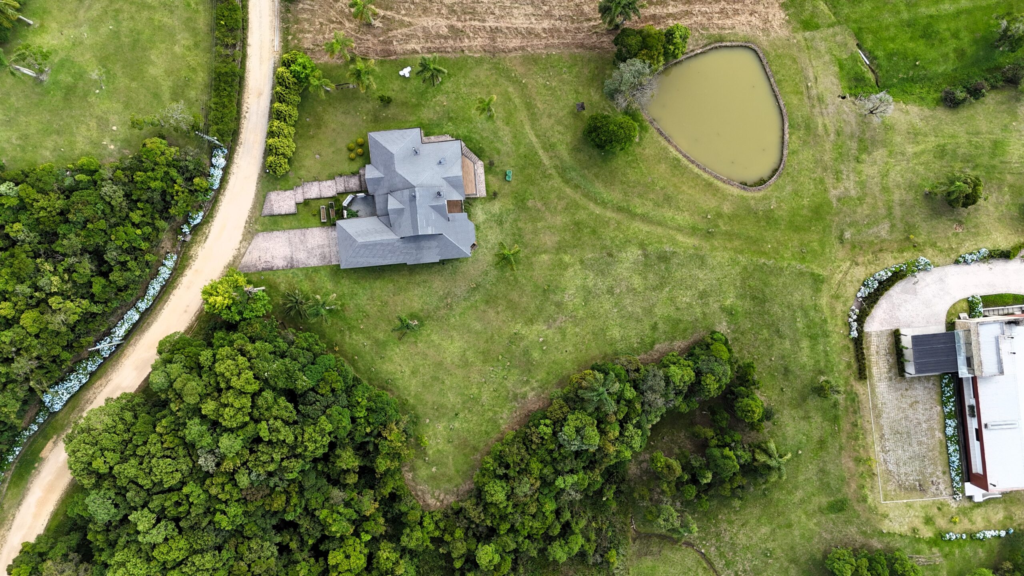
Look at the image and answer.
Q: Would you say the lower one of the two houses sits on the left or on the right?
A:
right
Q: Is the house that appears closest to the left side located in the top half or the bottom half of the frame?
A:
top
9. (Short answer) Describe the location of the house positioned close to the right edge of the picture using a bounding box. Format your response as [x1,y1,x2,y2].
[906,314,1024,501]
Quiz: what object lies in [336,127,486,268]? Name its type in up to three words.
house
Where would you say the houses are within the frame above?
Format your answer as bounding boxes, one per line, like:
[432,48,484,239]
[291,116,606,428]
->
[906,314,1024,501]
[336,127,486,268]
